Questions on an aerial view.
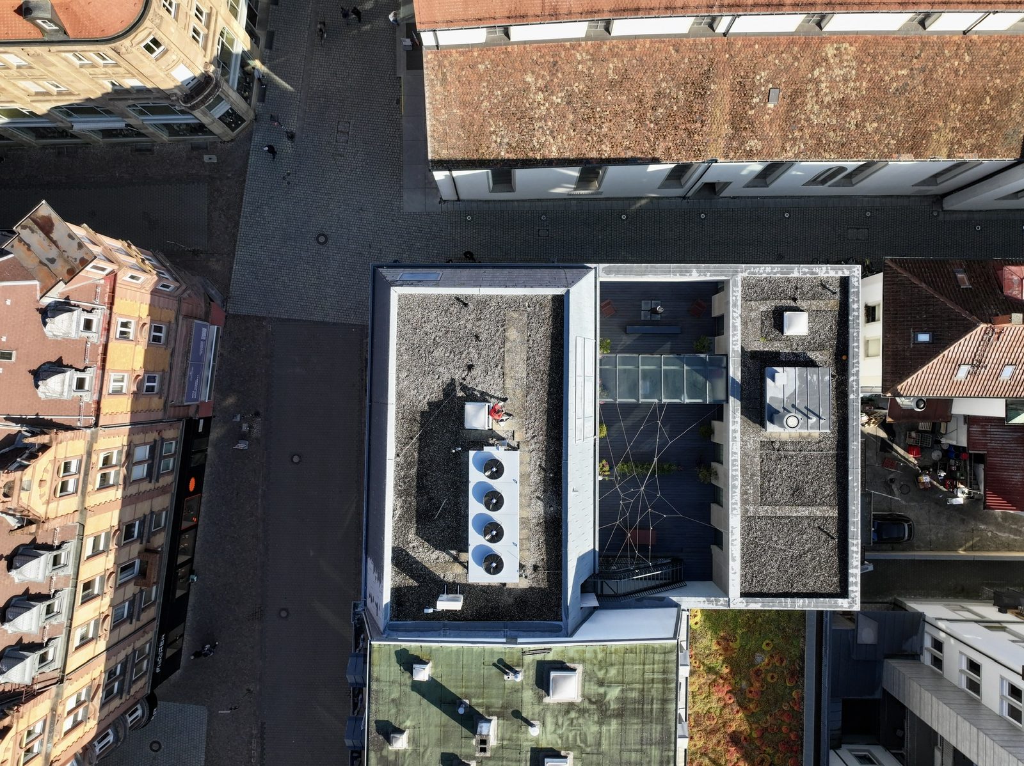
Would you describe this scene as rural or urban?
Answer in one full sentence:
From above, the setting appears urban.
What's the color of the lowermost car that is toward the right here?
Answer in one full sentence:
The color of the lowermost car that is toward the right is black.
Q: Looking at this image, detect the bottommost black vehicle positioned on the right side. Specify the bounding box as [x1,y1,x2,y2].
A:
[863,515,922,550]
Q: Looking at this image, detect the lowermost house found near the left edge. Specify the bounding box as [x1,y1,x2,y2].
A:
[0,417,212,766]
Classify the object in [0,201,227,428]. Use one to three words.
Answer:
house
